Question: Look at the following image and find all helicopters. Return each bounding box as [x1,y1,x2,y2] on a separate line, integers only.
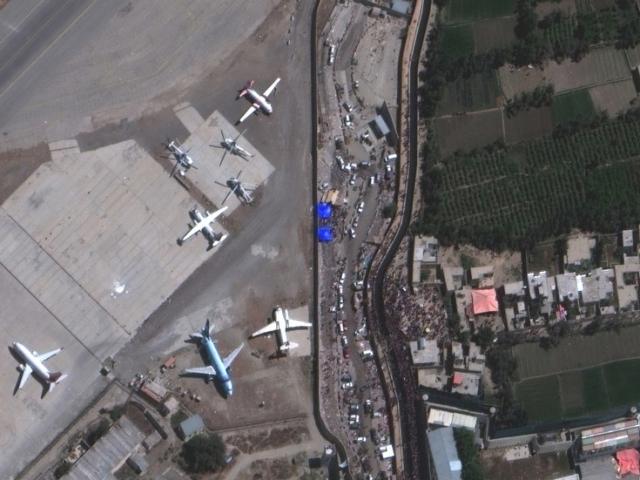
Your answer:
[218,169,254,202]
[214,127,256,159]
[168,138,203,174]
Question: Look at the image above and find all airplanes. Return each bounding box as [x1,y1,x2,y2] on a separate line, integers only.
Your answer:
[252,308,314,349]
[182,325,248,396]
[236,79,282,119]
[179,209,234,244]
[13,342,65,389]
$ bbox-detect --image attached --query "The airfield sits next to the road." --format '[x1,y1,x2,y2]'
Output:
[0,0,321,480]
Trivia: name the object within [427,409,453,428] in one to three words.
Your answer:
shed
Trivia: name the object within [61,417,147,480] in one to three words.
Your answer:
hangar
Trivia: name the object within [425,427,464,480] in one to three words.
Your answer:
building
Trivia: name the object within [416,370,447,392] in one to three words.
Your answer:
house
